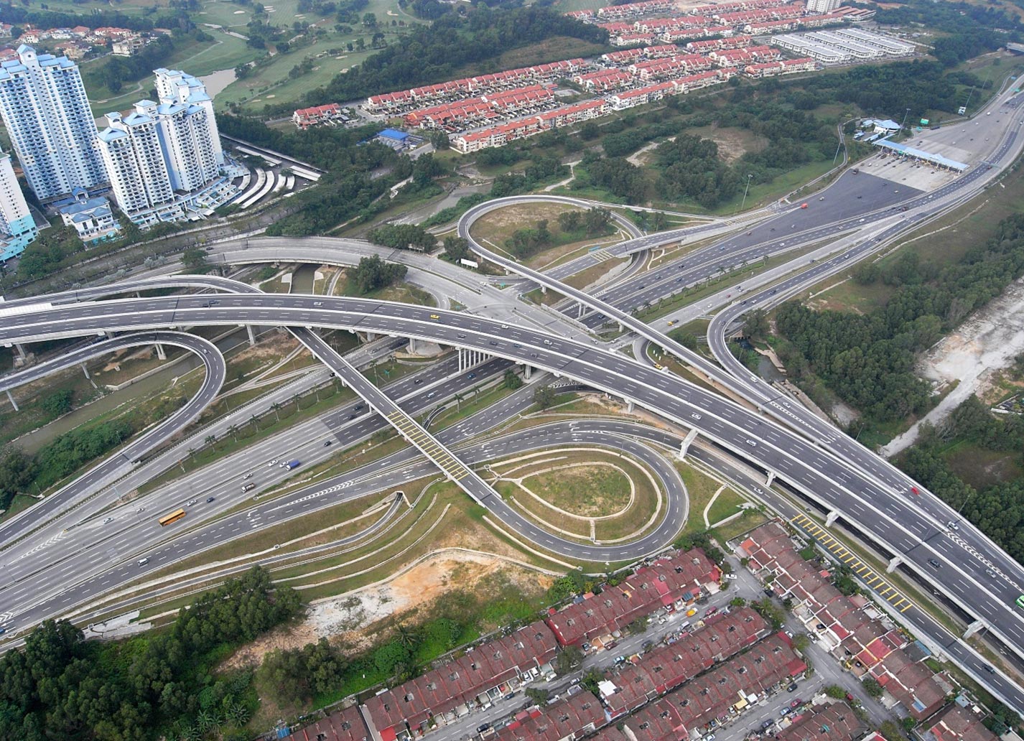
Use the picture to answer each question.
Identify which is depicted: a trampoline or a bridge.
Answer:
bridge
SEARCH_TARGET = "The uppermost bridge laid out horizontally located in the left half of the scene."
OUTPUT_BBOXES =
[181,236,392,268]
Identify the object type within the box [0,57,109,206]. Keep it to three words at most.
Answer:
building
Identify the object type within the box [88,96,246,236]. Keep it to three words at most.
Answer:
building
